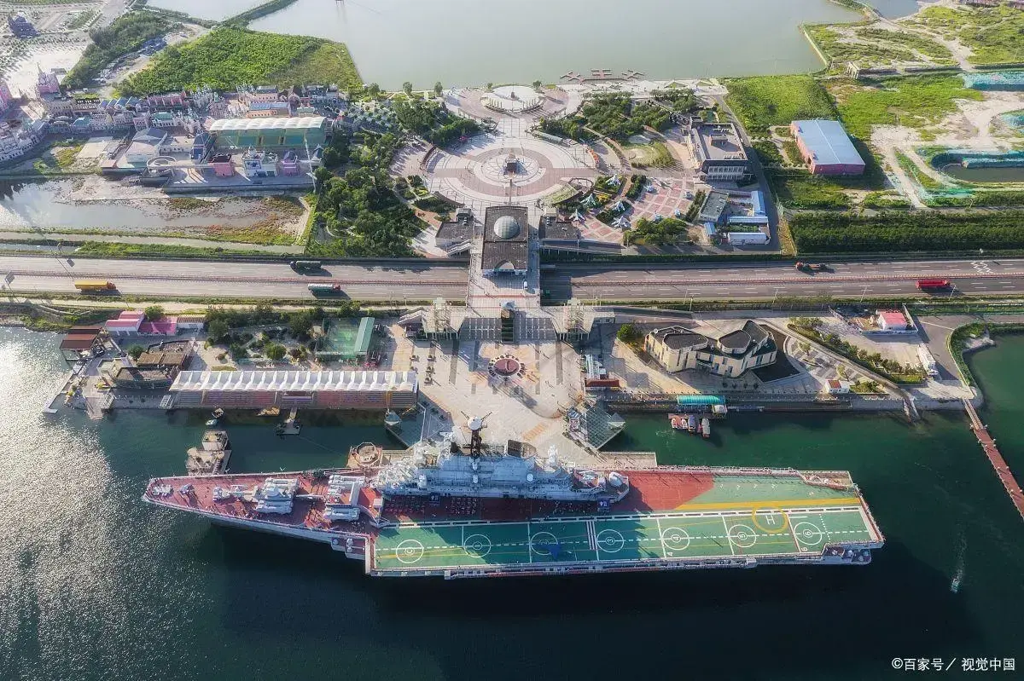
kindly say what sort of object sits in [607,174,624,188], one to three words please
airplane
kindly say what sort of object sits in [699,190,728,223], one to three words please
building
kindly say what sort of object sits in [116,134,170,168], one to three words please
house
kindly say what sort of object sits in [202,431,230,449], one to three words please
boat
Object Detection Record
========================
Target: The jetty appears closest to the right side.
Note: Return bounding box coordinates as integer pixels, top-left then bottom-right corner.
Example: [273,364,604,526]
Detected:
[961,399,1024,522]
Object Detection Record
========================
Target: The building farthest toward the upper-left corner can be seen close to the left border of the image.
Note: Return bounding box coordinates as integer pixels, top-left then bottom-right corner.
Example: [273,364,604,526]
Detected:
[4,15,40,40]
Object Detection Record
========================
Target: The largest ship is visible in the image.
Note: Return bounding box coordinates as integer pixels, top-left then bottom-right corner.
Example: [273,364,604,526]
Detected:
[142,413,884,582]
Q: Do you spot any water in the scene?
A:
Yes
